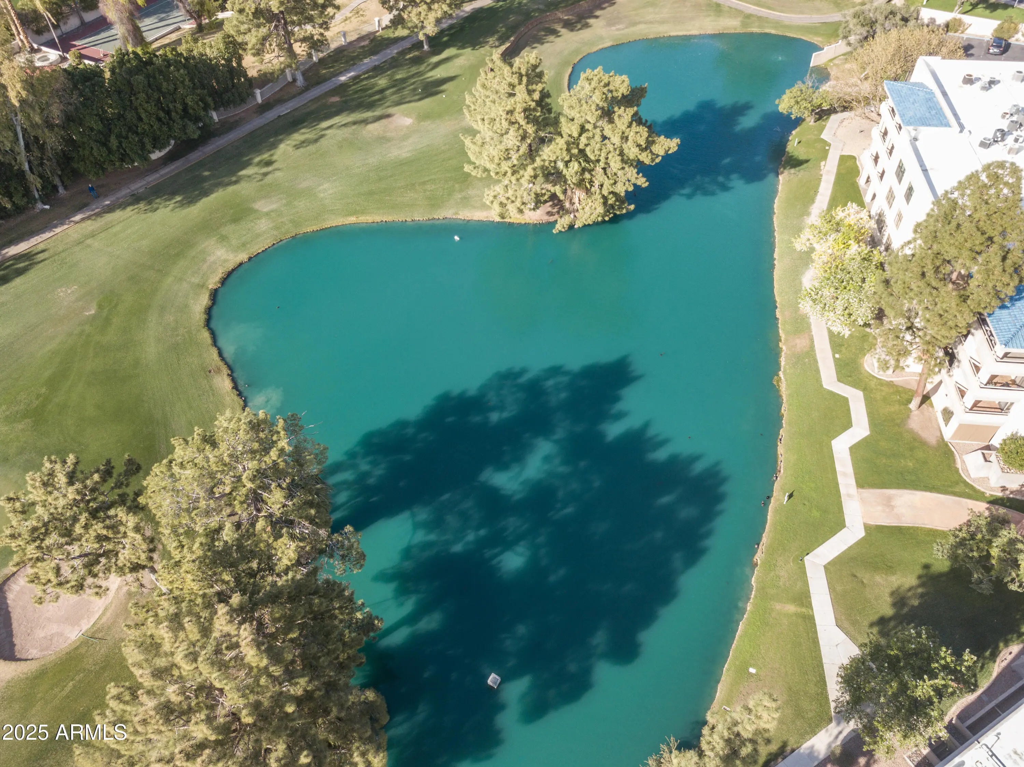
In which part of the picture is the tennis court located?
top left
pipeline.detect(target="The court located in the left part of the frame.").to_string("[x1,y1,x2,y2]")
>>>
[39,0,231,62]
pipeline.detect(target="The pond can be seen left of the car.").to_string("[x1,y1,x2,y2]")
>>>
[207,33,829,767]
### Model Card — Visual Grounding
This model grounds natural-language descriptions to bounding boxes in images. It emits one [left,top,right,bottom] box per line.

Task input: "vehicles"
[989,35,1009,52]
